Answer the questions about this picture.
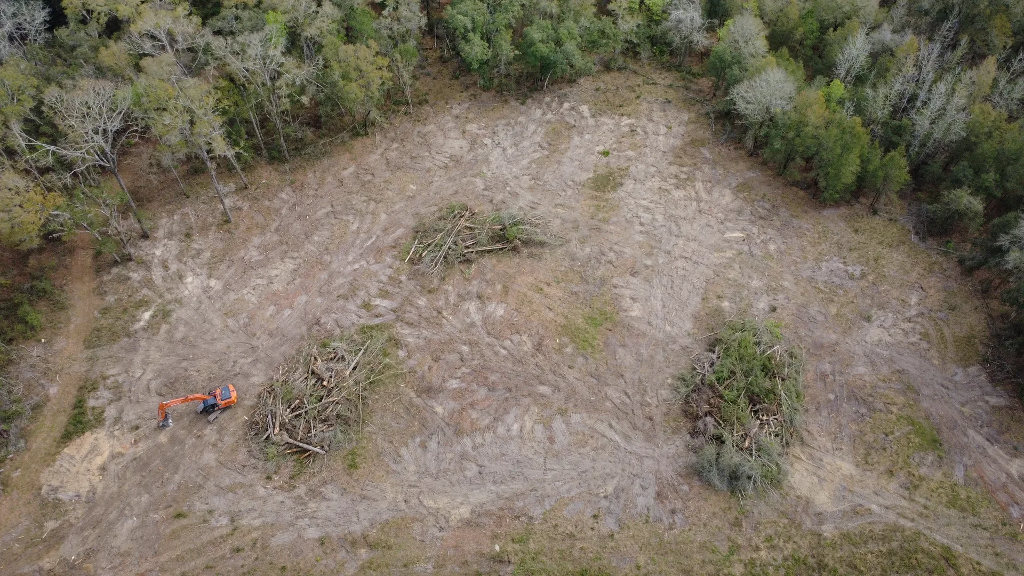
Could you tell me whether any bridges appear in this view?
No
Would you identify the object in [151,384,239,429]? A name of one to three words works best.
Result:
work vehicle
